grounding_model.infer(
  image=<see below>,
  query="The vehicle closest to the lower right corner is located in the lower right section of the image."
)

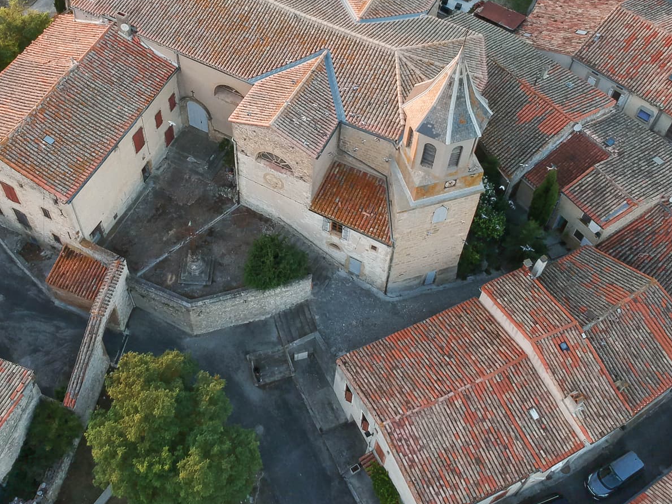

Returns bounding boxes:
[586,444,655,499]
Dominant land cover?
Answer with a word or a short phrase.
buildings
